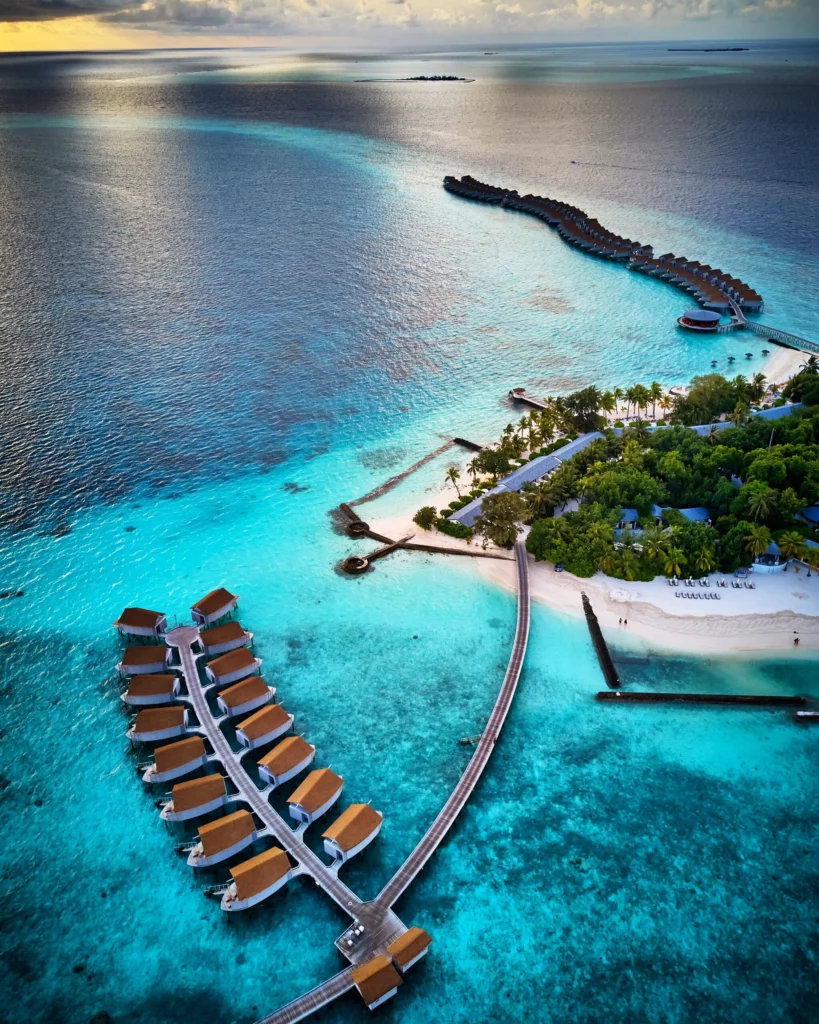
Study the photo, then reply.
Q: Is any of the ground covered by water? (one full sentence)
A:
Yes, there is water in the image.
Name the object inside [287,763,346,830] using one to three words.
house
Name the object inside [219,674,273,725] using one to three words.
house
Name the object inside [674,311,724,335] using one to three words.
building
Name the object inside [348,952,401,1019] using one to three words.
shed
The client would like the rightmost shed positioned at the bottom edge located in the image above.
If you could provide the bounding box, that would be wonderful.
[383,925,434,987]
